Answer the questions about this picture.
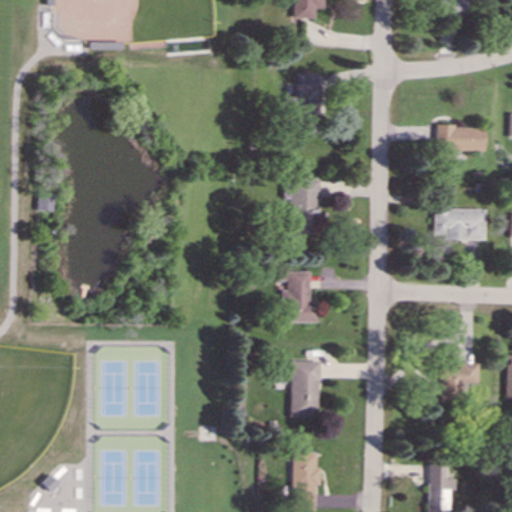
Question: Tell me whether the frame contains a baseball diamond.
Yes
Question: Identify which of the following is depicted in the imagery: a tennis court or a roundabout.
tennis court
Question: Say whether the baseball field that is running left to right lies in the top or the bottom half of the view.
top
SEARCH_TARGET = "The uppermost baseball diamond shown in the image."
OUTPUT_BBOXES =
[54,0,214,50]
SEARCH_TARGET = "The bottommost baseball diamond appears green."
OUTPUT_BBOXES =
[0,347,74,489]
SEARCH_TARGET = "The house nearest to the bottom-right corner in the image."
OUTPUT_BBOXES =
[430,466,458,512]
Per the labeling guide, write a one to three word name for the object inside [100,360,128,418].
tennis court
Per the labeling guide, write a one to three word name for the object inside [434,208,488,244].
house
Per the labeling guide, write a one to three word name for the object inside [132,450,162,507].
tennis court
